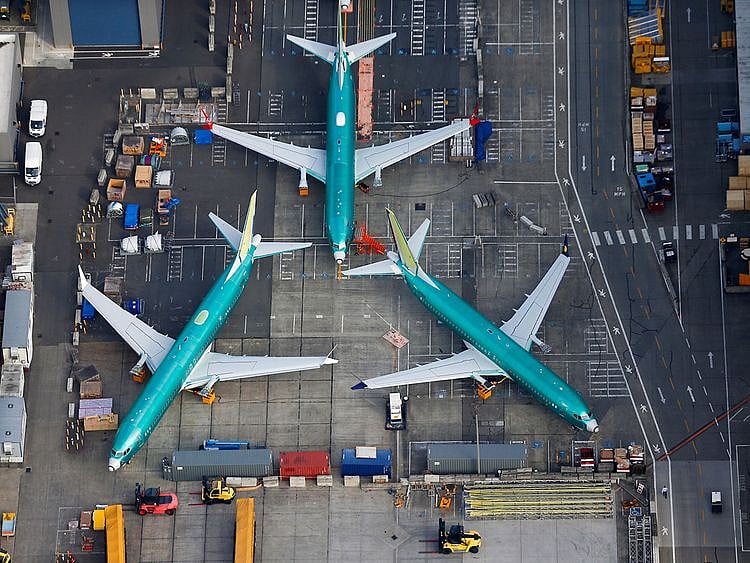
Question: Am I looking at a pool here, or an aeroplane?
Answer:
aeroplane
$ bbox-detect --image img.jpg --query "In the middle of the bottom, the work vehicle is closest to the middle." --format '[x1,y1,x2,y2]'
[385,397,406,432]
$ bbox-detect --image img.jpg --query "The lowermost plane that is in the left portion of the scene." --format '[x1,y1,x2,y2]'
[77,191,338,470]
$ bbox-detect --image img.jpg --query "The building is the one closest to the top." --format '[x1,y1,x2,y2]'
[51,0,159,49]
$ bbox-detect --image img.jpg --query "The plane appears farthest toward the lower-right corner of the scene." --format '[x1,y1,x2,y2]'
[344,209,599,432]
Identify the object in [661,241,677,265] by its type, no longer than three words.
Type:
vehicle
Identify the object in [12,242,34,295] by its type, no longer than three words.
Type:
trailer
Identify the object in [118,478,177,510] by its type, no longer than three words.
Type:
work vehicle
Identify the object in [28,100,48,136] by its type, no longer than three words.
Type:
vehicle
